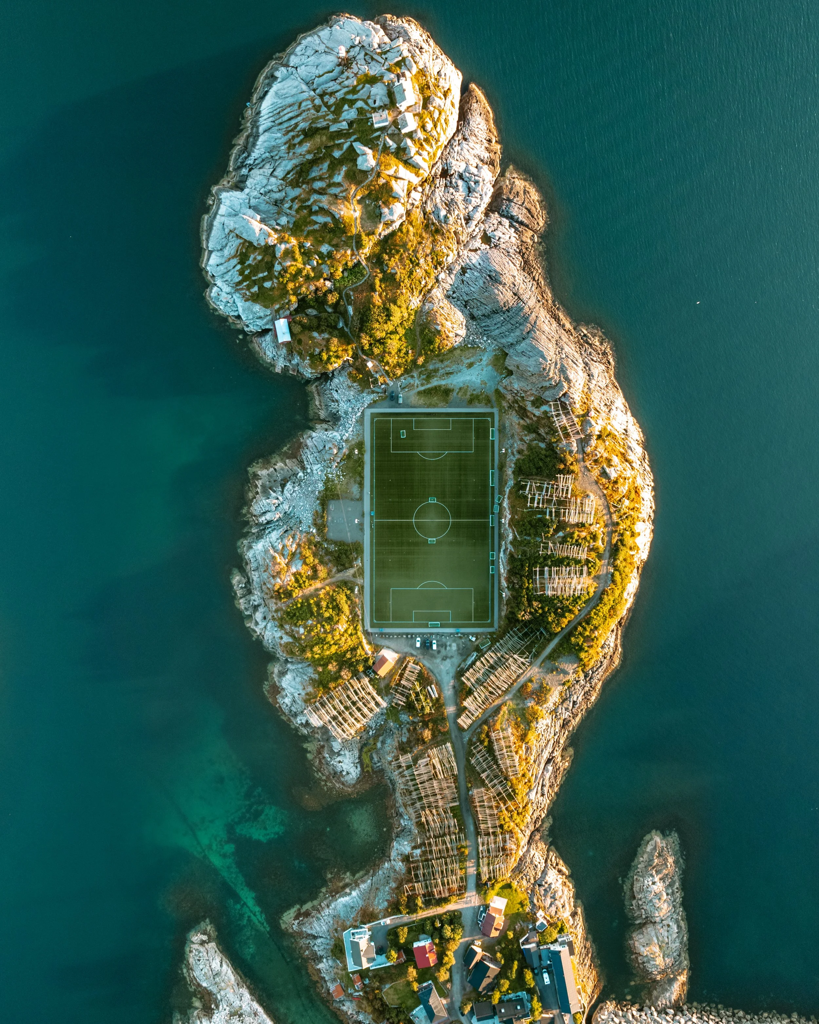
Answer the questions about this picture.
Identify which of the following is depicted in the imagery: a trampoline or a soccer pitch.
soccer pitch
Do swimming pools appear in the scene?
No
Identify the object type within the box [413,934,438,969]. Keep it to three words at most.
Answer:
house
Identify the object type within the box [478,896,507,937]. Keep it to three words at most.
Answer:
house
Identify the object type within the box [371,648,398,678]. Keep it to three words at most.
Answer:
barn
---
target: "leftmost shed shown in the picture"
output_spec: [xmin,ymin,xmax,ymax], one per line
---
[274,318,292,345]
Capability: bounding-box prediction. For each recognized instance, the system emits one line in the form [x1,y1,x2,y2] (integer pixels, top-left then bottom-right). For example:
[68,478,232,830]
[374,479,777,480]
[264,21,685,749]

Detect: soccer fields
[370,412,494,628]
